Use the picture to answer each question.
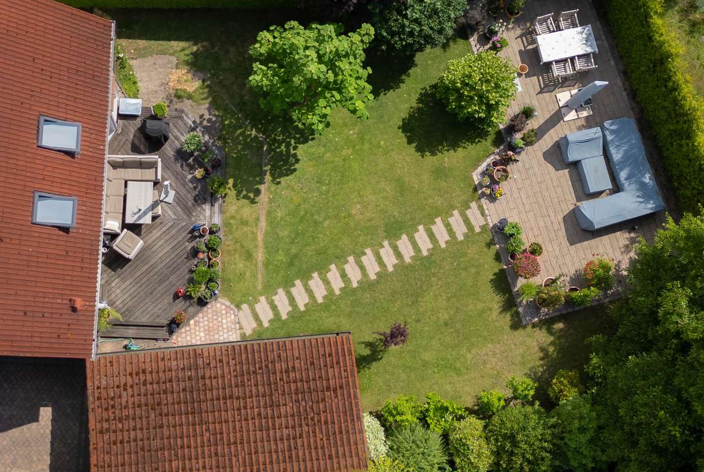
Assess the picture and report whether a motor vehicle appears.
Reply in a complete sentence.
No, I find no motor vehicle anywhere in the image.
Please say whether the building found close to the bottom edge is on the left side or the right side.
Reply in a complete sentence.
The building found close to the bottom edge appears in the left half of the scene.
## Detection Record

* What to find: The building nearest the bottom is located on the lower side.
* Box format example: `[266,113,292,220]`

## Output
[87,330,367,472]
